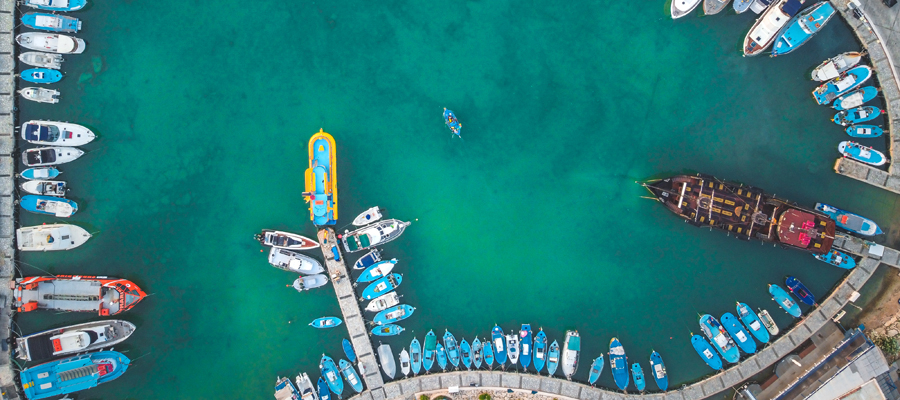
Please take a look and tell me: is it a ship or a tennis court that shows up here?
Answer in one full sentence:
This aerial view contains a ship.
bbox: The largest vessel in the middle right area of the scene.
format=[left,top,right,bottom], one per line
[635,175,850,255]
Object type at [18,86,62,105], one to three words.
boat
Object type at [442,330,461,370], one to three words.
boat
